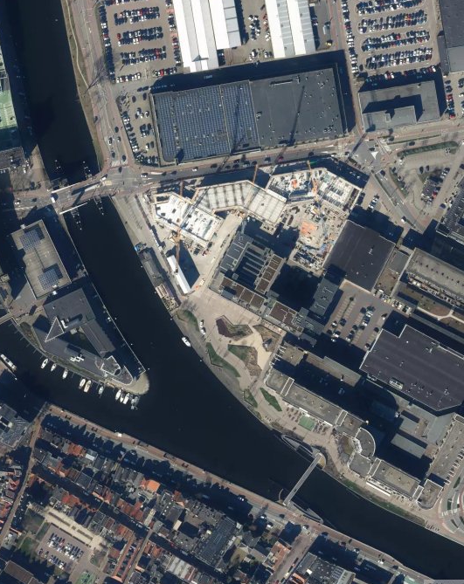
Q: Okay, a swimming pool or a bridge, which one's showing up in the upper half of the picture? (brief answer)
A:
bridge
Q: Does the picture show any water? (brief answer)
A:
Yes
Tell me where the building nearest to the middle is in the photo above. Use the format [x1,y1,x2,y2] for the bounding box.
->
[209,273,266,318]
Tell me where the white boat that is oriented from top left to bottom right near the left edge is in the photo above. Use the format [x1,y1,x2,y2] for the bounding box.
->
[0,353,17,371]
